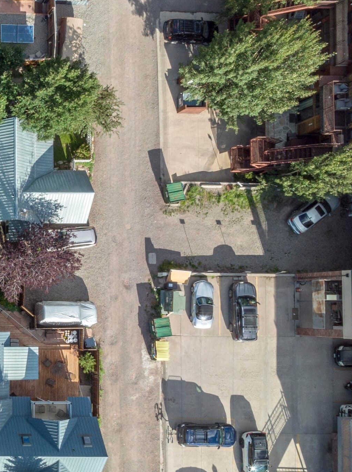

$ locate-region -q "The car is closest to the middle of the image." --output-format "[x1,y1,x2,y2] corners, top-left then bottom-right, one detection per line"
[189,280,216,329]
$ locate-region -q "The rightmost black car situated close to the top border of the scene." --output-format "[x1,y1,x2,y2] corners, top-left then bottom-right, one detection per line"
[158,16,217,46]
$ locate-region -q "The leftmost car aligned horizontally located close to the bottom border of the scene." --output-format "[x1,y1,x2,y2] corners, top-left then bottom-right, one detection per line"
[173,421,235,450]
